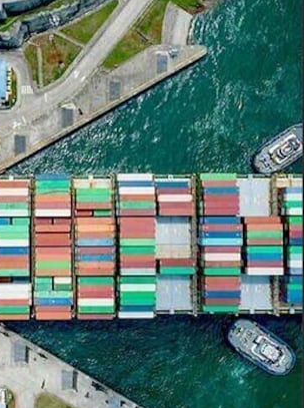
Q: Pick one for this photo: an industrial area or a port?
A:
port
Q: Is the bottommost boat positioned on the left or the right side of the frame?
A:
right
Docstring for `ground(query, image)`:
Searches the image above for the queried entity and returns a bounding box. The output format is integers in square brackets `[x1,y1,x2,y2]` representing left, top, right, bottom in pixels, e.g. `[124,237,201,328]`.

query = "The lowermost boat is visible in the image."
[222,319,297,372]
